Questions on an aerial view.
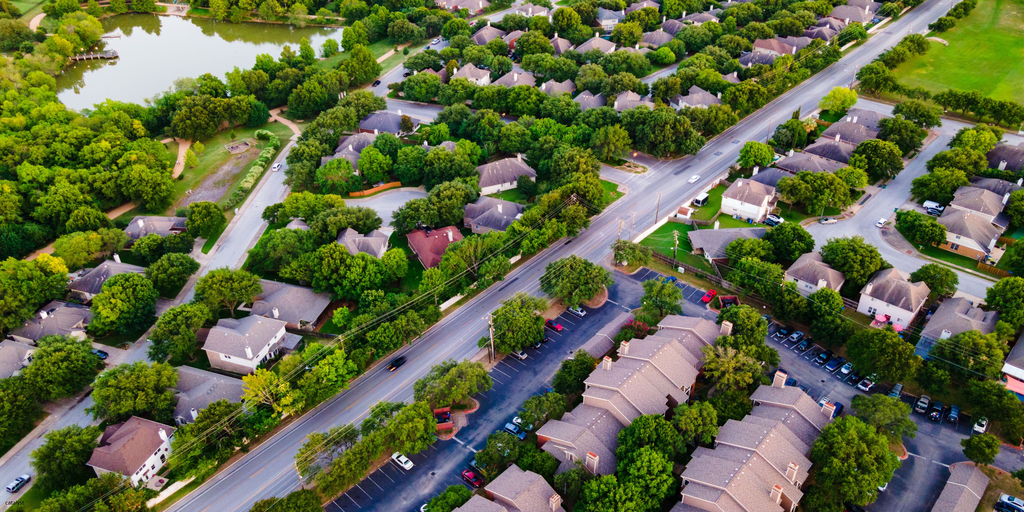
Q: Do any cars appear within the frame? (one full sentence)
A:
Yes, this view includes a car.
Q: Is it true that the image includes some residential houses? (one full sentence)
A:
Yes, you can see a residential house in this photo.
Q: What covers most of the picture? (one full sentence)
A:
The scene is dominated by trees.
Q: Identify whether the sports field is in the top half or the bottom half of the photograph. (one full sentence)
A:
It is in the top half that the sports field appears.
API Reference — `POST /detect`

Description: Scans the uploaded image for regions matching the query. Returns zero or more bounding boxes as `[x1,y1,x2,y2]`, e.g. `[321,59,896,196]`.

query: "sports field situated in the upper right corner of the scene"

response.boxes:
[863,0,1024,113]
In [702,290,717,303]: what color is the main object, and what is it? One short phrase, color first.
red vehicle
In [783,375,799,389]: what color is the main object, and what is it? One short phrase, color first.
blue car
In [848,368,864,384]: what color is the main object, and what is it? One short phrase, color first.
black car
